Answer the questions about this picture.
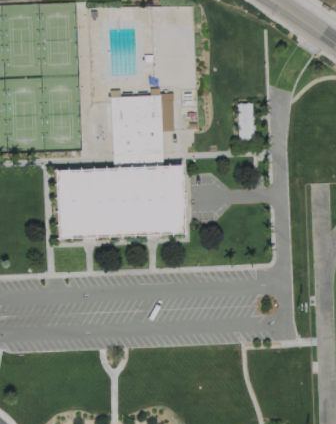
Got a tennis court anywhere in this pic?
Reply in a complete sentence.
Yes, the image includes a tennis court.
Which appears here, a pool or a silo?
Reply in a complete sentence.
It is a pool that can be seen here.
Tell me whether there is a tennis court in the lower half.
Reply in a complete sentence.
No, in the lower half there is no tennis court.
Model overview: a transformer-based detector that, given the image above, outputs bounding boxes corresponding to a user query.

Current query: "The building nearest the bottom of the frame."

[54,164,186,242]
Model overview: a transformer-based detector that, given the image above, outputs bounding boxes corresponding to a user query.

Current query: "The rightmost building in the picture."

[238,103,255,140]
